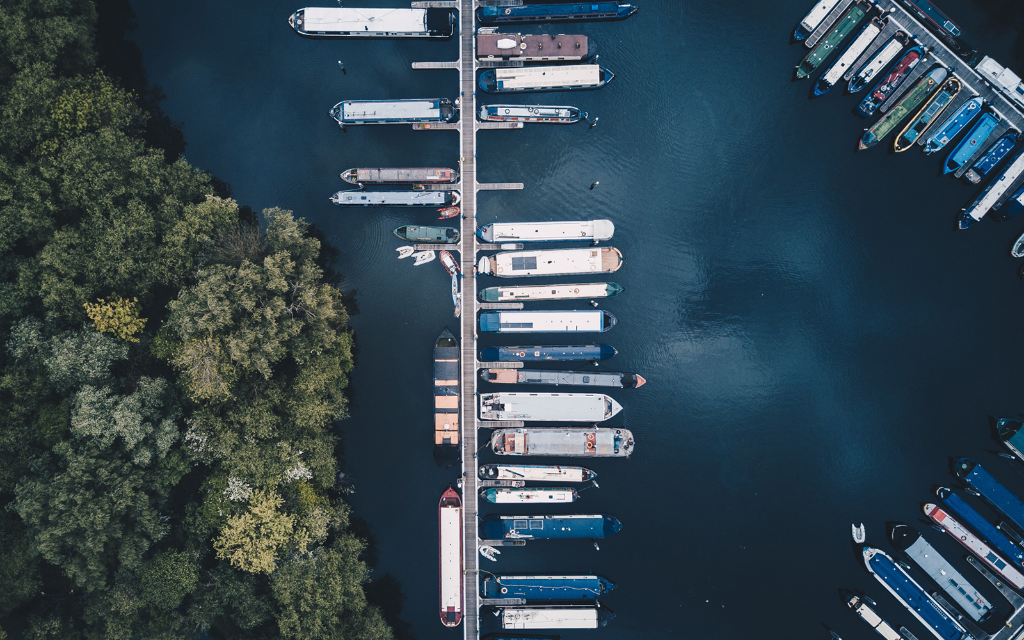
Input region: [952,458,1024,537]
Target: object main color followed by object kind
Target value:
blue boat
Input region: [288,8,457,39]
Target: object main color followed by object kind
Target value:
white boat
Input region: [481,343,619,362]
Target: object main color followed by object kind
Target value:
blue boat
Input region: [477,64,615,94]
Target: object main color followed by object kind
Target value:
white boat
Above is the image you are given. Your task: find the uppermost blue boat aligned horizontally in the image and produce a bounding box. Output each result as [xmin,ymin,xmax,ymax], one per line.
[477,1,639,26]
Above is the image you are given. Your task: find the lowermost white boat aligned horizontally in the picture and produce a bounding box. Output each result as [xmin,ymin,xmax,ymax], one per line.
[481,601,616,629]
